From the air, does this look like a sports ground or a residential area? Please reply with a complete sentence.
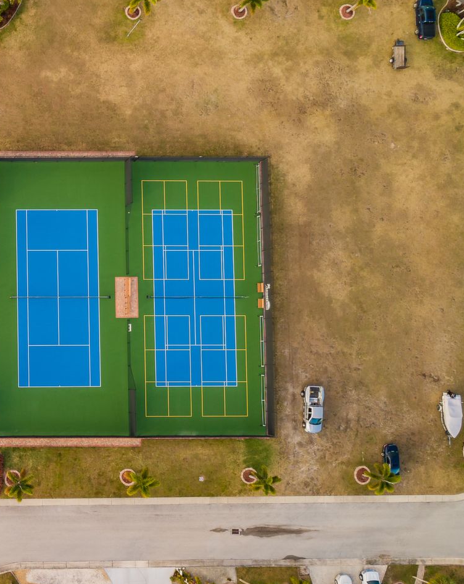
The picture captures a sports ground.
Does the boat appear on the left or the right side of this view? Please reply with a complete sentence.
It is on the right.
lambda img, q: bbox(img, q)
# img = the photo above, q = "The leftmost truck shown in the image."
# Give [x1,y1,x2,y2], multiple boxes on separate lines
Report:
[304,386,326,432]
